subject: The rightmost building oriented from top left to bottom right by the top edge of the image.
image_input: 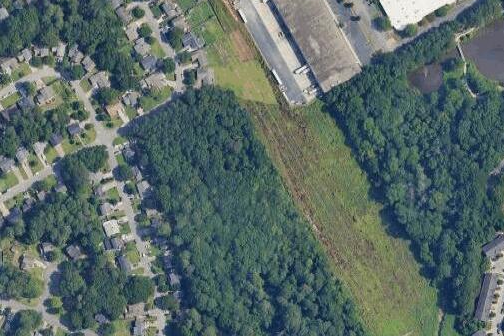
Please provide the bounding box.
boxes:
[273,0,361,88]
